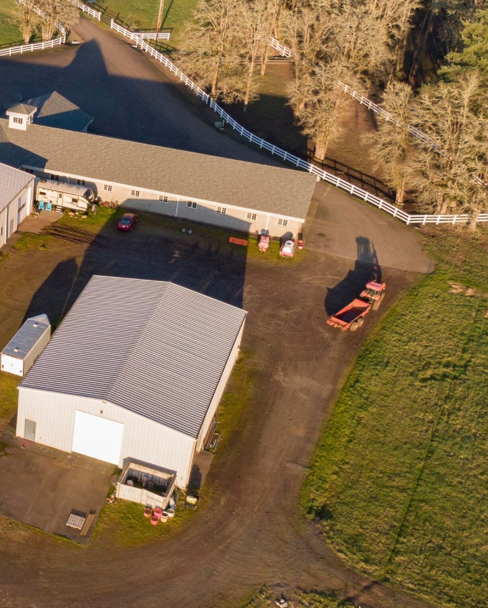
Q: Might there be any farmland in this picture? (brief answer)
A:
Yes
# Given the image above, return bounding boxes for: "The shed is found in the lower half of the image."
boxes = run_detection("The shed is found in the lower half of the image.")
[14,275,249,487]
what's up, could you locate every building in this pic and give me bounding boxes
[14,275,249,487]
[0,92,325,240]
